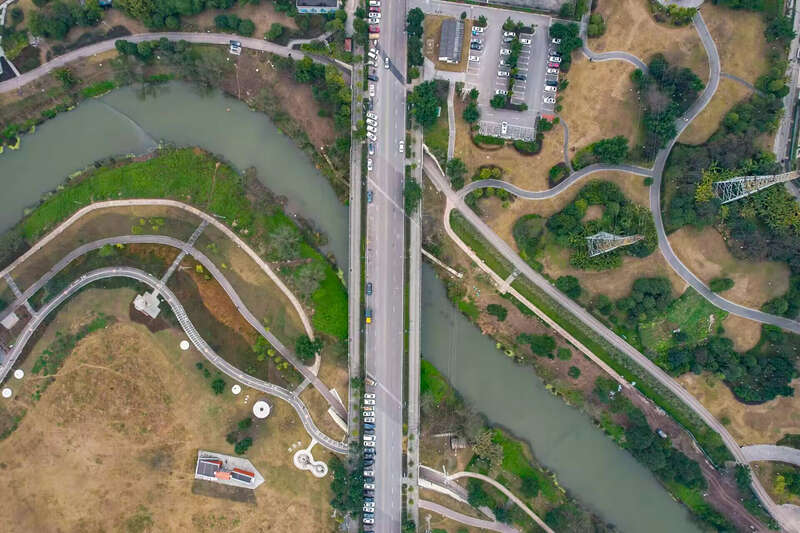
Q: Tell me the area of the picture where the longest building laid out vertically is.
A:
top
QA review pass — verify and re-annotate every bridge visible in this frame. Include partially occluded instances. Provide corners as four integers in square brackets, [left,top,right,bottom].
[347,142,423,533]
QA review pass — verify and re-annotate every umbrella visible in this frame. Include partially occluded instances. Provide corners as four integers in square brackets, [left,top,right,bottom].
[231,385,241,394]
[180,340,189,349]
[2,388,12,398]
[14,370,25,378]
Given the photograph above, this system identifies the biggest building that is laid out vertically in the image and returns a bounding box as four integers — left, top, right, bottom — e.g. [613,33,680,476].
[438,20,464,66]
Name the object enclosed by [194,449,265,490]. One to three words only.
building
